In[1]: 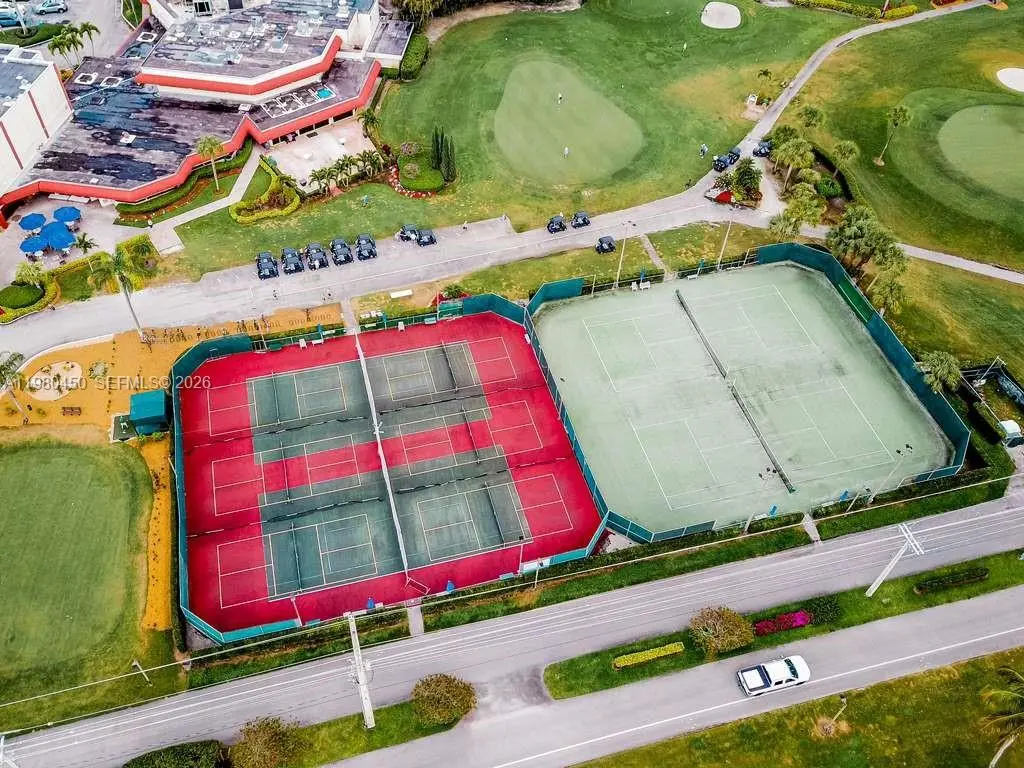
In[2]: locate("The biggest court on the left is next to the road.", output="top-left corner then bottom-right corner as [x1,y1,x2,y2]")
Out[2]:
[180,311,601,635]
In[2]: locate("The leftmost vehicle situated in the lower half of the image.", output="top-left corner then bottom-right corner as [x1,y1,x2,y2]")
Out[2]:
[735,658,810,696]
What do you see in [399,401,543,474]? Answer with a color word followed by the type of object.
red sports court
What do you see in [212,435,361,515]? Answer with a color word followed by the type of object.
red sports court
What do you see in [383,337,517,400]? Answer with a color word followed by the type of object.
gray sports court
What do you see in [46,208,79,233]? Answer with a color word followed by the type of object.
blue umbrella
